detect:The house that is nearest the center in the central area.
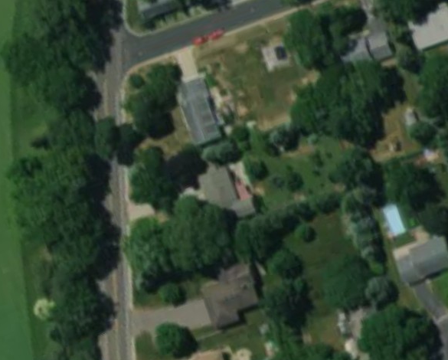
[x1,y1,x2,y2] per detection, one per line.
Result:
[205,165,255,218]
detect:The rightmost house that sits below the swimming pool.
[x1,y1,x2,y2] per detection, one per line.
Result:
[399,240,448,285]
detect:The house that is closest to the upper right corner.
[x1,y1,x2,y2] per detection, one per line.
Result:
[410,4,448,49]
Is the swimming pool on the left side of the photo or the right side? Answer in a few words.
right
